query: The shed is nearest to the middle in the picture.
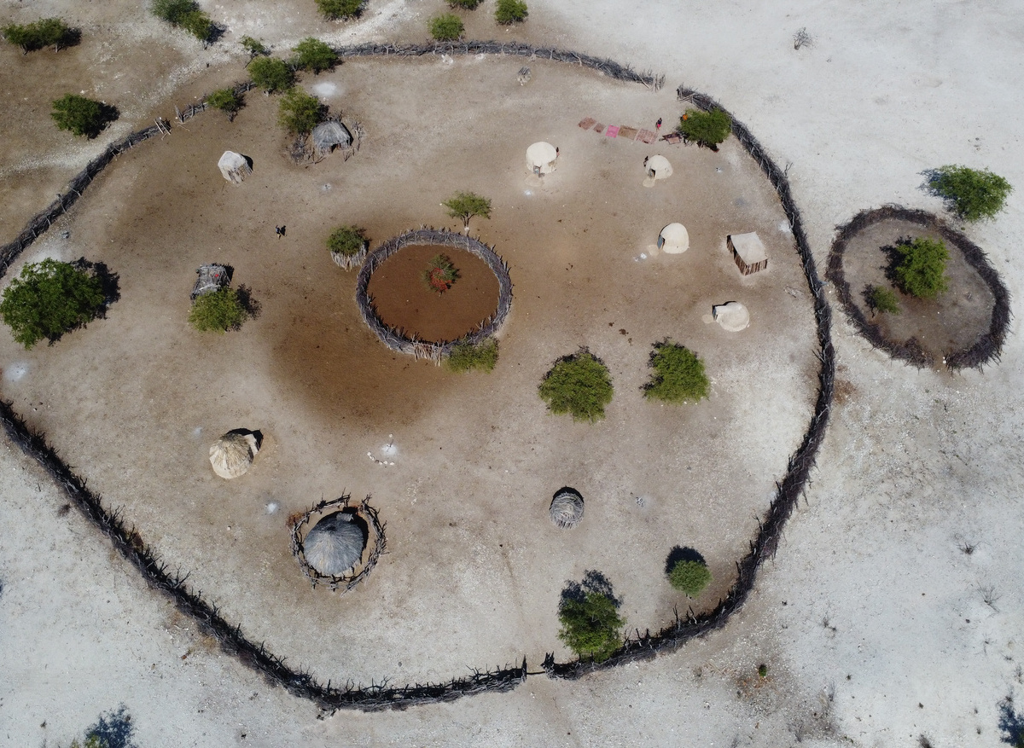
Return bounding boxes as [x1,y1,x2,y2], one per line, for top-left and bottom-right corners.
[549,489,583,529]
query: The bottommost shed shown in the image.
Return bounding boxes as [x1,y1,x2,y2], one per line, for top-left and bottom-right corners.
[305,513,363,577]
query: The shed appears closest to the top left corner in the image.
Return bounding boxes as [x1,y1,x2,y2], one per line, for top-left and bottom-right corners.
[219,151,253,184]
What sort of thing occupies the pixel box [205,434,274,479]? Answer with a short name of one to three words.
shed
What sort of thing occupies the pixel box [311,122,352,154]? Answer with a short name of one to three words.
shed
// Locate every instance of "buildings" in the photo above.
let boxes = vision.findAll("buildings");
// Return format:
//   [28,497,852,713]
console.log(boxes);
[651,225,691,256]
[311,122,352,154]
[703,303,751,333]
[219,151,253,184]
[643,154,673,187]
[205,434,274,479]
[524,147,555,183]
[305,513,363,577]
[725,232,767,275]
[549,489,583,529]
